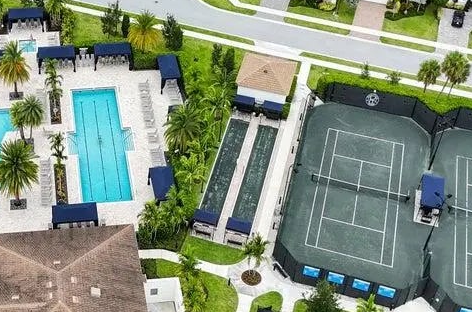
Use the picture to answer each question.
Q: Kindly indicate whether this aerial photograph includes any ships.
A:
No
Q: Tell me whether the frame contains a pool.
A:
Yes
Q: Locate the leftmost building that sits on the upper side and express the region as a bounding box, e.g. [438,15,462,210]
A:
[236,52,297,111]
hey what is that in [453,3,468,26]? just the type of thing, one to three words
car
